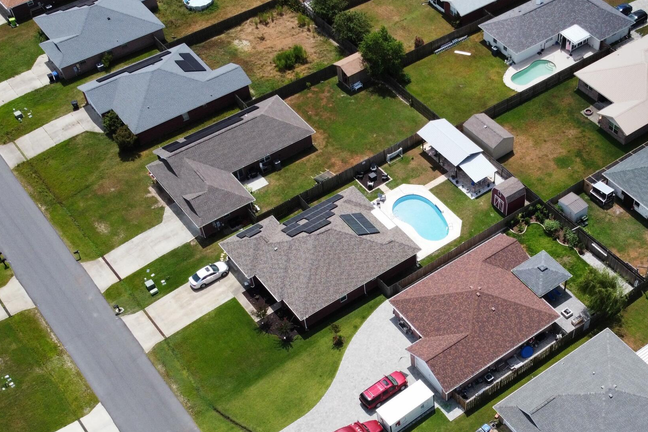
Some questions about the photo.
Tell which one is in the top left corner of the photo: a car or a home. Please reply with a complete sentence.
It is a home that can be seen in the top left corner of the photo.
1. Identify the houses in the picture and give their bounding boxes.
[33,0,165,82]
[603,146,648,222]
[574,34,648,147]
[218,185,419,330]
[428,0,519,29]
[493,327,648,432]
[387,232,561,402]
[478,0,635,66]
[78,42,252,147]
[147,94,316,239]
